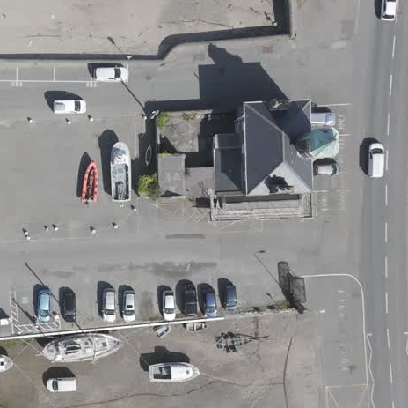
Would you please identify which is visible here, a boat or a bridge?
boat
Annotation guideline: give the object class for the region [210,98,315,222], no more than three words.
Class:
house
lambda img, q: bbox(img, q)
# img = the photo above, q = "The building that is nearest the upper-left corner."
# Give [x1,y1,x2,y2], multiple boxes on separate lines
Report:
[158,155,186,196]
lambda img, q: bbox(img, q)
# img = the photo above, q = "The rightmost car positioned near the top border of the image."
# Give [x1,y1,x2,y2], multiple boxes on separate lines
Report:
[379,0,395,21]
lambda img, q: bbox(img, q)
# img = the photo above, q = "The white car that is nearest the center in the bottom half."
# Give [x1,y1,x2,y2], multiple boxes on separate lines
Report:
[162,288,177,320]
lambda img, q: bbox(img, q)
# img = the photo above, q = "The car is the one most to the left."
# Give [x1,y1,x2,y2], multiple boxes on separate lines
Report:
[37,288,51,321]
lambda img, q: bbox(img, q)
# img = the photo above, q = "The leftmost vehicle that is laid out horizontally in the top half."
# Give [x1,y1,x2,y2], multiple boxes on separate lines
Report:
[53,99,87,114]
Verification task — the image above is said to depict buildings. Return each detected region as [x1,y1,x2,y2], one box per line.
[158,155,186,196]
[210,98,315,222]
